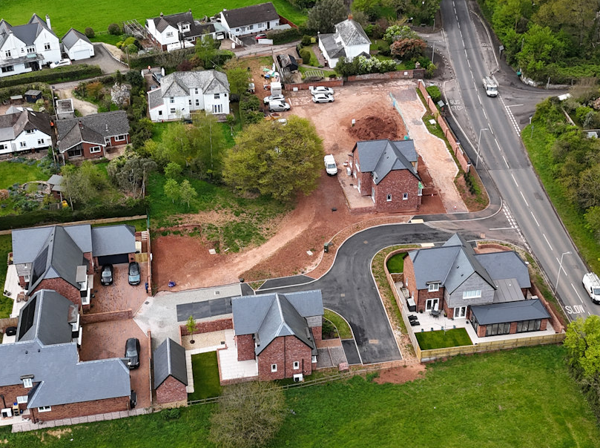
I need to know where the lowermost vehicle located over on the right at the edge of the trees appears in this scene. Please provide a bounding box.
[586,274,600,304]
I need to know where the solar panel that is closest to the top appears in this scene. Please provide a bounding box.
[33,249,50,281]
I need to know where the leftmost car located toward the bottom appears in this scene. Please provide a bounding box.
[98,266,113,287]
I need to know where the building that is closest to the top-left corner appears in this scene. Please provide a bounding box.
[0,7,60,70]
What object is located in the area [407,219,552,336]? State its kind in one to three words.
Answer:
house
